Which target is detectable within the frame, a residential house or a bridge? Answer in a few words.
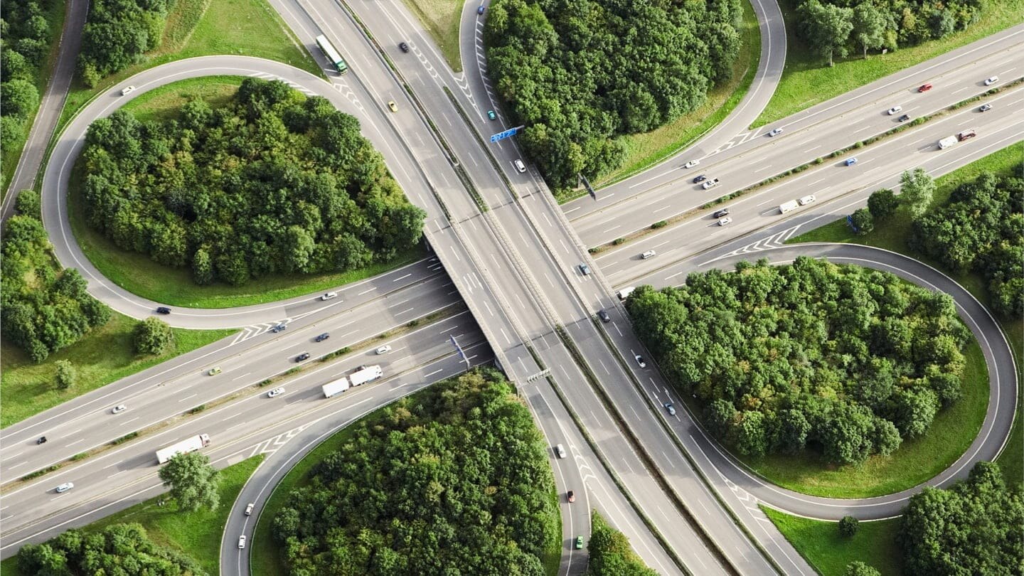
bridge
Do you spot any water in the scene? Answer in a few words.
No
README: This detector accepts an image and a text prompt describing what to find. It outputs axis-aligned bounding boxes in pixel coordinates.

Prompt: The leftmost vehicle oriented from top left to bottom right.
[317,35,346,73]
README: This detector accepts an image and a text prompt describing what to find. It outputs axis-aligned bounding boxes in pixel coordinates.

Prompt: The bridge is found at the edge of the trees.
[423,165,642,382]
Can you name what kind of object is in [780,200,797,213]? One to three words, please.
vehicle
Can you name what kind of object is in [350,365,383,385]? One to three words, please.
vehicle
